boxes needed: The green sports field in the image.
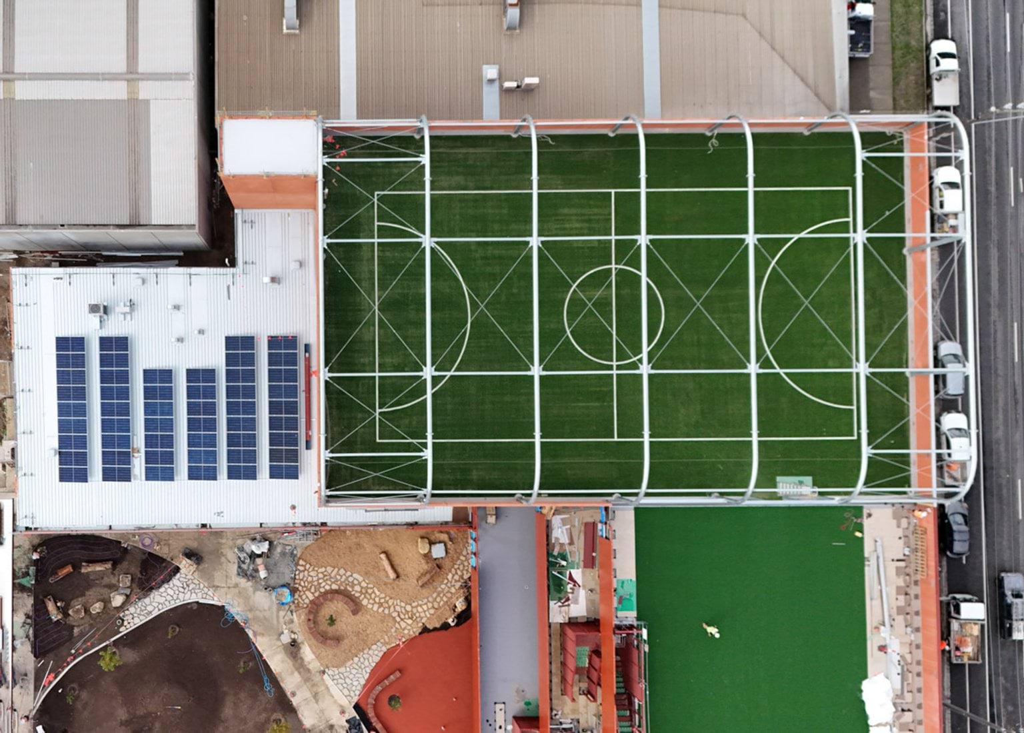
[325,132,911,496]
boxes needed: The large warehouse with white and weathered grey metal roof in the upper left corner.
[0,0,211,253]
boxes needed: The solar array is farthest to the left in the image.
[57,337,89,481]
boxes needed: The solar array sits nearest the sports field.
[268,336,300,478]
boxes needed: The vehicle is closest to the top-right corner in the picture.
[927,40,965,109]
